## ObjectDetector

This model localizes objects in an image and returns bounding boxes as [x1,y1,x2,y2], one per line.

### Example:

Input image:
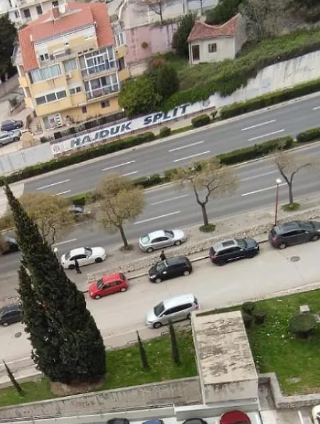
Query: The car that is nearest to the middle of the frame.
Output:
[139,229,187,251]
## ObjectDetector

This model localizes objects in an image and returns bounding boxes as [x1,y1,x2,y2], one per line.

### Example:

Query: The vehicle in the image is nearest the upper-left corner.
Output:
[0,118,24,132]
